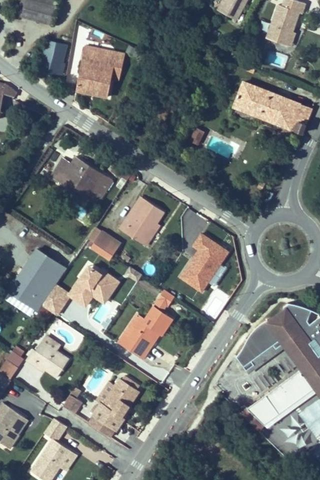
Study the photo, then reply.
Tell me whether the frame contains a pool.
Yes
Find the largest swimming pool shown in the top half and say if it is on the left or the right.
right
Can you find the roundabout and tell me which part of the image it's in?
right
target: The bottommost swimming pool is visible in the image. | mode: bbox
[82,364,112,396]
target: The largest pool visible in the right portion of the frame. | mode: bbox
[204,128,246,160]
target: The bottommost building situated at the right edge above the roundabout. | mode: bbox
[232,81,312,135]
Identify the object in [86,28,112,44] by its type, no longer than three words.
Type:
swimming pool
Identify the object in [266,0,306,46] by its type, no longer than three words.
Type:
house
